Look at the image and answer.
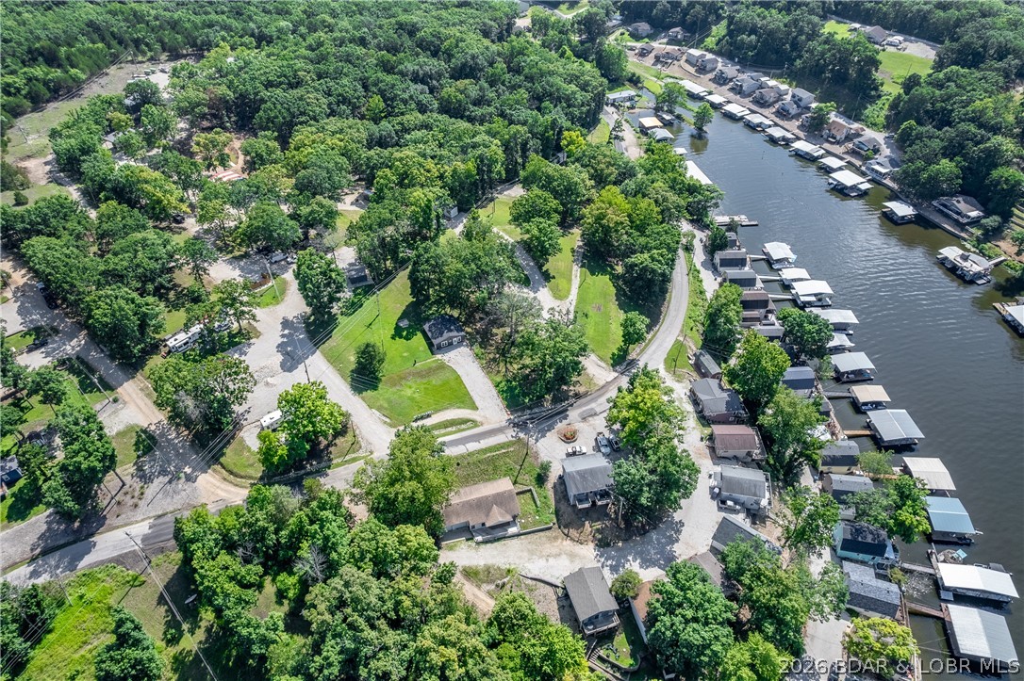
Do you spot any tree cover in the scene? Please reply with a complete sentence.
Yes, there is tree cover in the image.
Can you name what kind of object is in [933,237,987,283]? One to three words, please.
pier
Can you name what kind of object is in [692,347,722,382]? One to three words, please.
shed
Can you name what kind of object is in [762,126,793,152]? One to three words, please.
pier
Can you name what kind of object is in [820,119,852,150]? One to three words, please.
house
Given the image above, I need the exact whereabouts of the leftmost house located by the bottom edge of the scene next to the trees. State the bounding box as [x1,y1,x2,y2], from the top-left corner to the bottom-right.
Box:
[563,566,625,649]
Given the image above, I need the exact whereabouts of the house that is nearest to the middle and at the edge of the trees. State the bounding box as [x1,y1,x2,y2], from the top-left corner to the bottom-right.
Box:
[424,316,465,351]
